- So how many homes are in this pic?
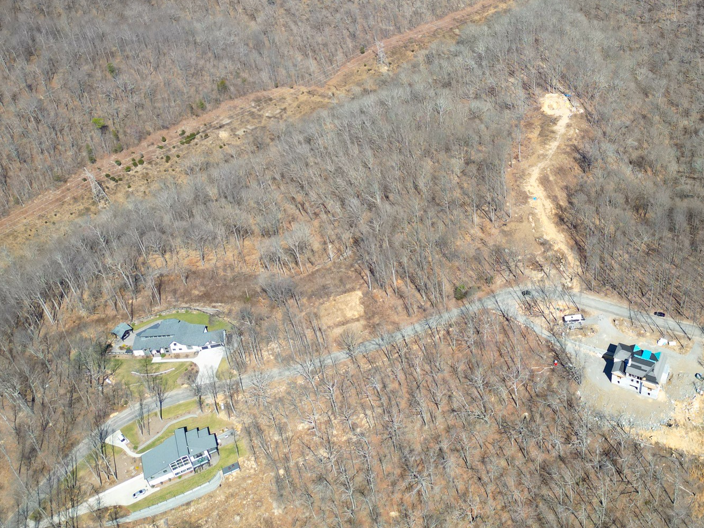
3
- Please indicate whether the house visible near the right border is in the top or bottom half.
bottom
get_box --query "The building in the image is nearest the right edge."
[604,340,673,402]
